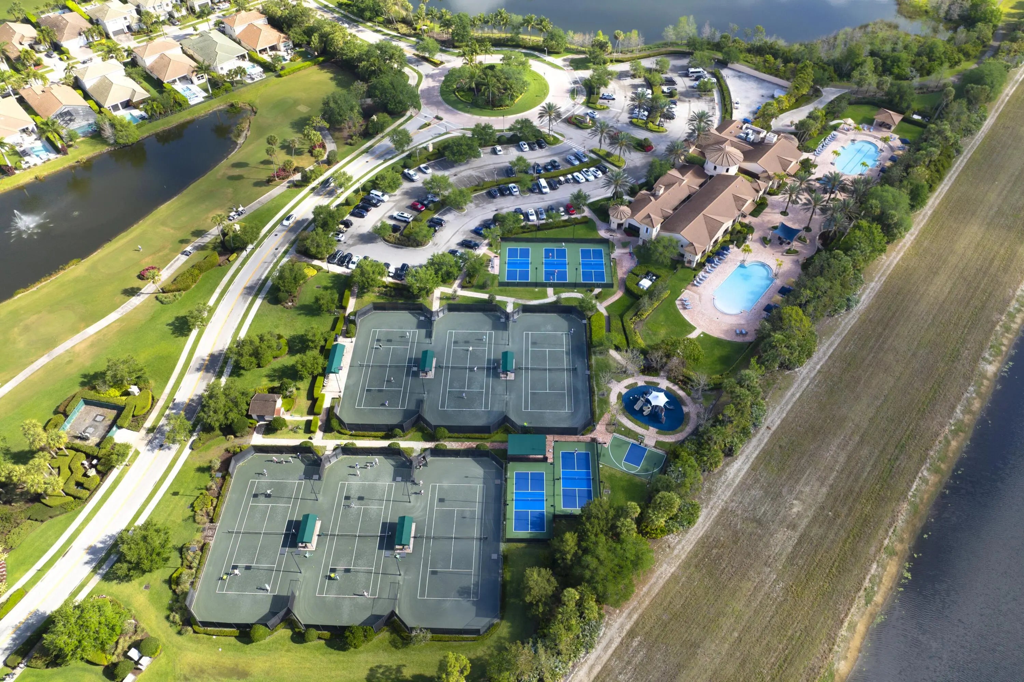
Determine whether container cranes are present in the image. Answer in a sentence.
No, there is no container crane in the image.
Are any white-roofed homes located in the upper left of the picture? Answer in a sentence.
Yes, a white-roofed home appears in the upper left of the picture.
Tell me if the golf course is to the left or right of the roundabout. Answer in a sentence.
You can see the golf course positioned to the left of the roundabout.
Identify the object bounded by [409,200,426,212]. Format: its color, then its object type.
red vehicle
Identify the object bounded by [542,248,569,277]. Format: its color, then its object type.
blue sports court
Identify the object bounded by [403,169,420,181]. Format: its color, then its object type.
white vehicle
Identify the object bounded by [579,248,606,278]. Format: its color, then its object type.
blue sports court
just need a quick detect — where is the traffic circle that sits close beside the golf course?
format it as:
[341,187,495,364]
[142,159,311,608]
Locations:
[417,53,570,130]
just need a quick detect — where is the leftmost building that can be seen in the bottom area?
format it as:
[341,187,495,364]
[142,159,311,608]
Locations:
[248,393,288,426]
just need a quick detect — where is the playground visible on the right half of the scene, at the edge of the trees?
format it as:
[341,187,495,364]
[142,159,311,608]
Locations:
[614,376,697,437]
